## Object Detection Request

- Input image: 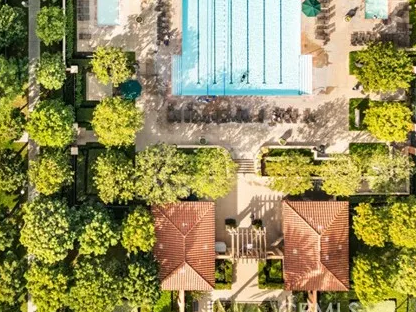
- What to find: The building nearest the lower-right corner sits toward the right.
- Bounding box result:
[281,200,350,292]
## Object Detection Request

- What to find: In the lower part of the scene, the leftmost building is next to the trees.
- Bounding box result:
[153,201,215,291]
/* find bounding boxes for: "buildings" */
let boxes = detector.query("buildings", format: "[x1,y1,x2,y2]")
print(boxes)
[281,200,350,292]
[153,201,215,291]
